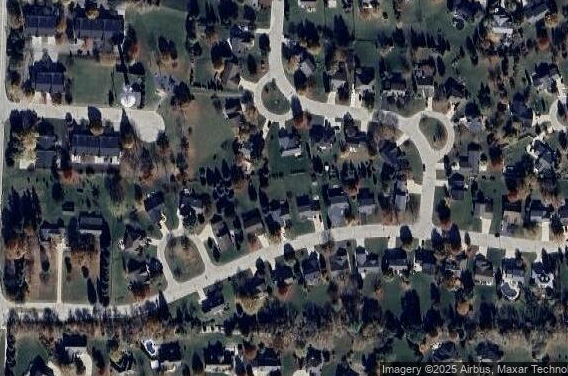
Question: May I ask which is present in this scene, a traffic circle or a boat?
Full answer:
Visible in the photo is a traffic circle.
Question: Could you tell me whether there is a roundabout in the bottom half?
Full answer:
Yes, there is a roundabout in the bottom half.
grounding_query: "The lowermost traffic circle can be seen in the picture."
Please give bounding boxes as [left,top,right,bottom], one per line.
[156,230,212,291]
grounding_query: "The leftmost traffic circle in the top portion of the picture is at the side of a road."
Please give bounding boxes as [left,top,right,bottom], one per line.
[252,71,300,122]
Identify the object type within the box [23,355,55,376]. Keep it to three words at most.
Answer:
house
